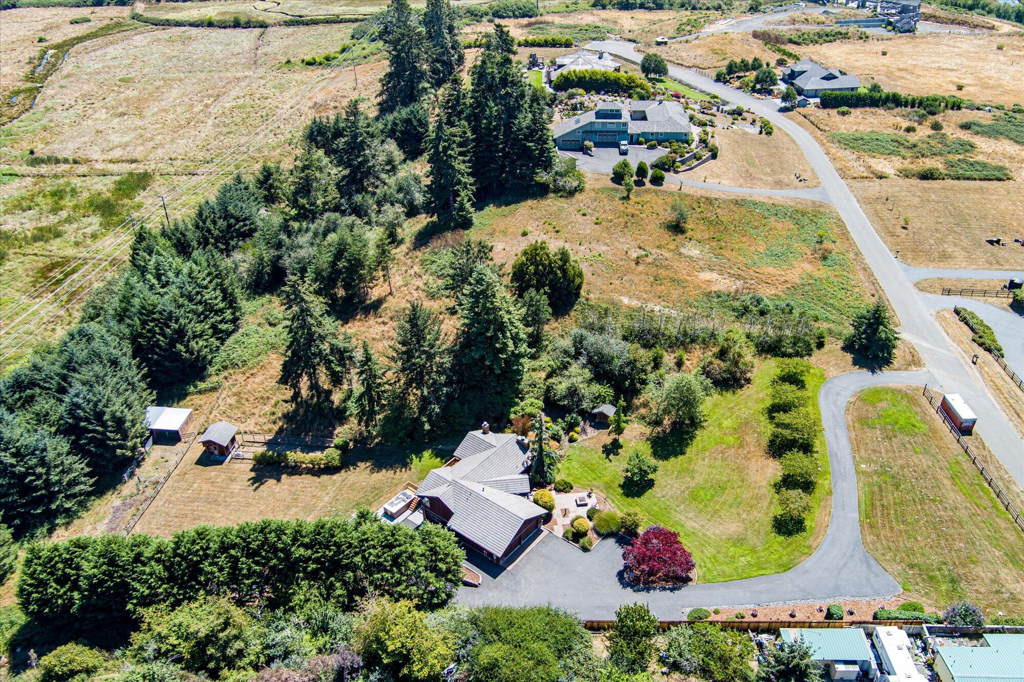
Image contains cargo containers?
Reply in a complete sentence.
Yes, a cargo container is visible in the scene.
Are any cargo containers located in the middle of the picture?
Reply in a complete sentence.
No, there is no cargo container in the middle of the picture.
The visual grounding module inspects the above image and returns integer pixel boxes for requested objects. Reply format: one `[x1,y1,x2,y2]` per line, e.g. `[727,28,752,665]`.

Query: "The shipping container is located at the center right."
[940,394,979,432]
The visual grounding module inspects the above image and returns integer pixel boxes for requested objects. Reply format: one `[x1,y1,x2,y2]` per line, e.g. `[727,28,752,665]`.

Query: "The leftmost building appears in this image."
[146,403,200,444]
